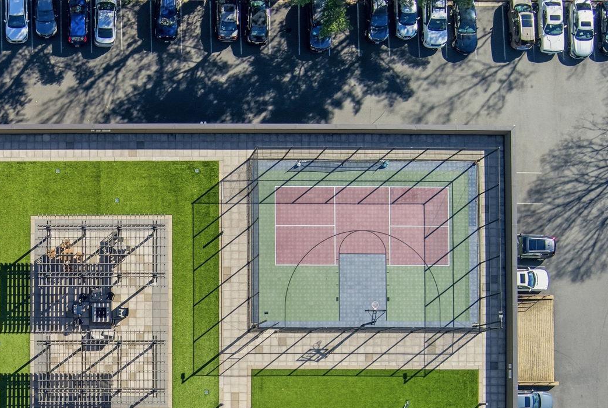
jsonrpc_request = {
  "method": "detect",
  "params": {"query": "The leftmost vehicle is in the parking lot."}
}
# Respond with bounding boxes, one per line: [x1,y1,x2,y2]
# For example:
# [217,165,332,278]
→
[2,0,30,44]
